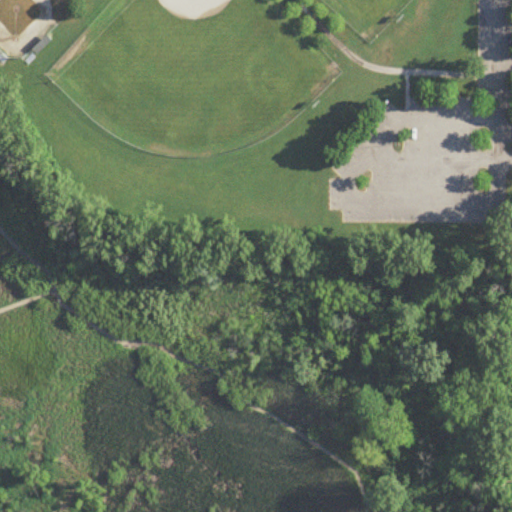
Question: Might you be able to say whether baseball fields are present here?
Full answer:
Yes, you can see a baseball field in this photo.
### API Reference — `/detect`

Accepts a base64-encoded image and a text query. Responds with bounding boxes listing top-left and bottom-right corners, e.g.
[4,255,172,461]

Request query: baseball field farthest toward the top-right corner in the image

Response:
[322,0,412,42]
